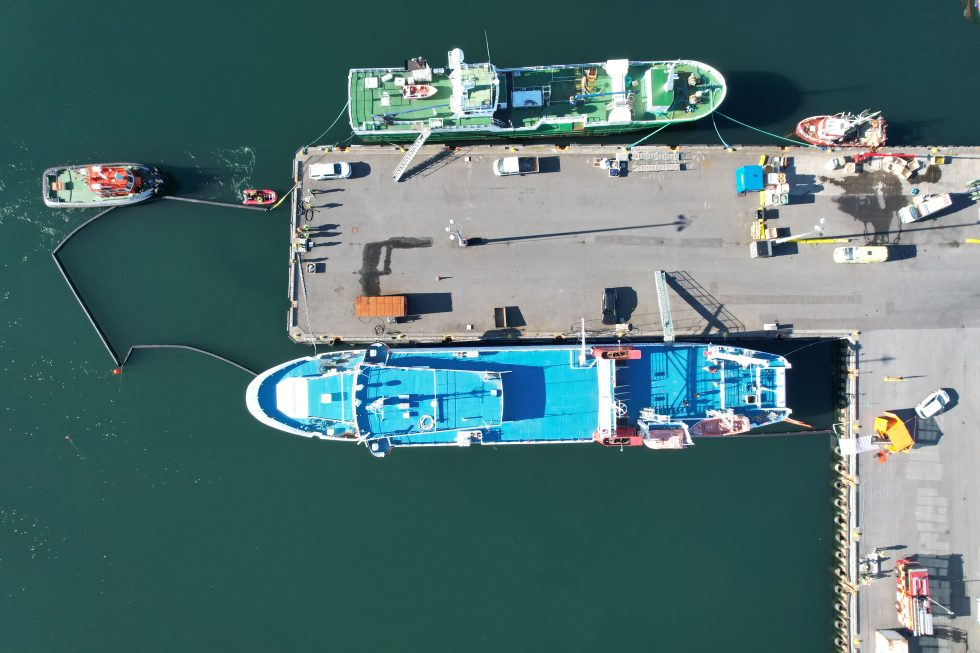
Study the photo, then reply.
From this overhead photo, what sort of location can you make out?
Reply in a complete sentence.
It's a port.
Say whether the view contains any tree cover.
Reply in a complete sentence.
No, there's no tree cover in this view.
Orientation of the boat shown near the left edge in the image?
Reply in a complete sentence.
From this overhead view, the boat shown near the left edge appears to run from left to right.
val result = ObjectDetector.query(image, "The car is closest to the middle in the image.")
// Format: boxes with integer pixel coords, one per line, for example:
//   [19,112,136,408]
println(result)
[602,287,621,325]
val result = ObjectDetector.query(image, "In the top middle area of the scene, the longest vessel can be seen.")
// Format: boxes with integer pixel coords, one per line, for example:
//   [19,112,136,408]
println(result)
[346,31,727,146]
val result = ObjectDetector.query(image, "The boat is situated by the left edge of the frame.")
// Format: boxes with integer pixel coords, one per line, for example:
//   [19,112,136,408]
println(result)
[42,161,171,210]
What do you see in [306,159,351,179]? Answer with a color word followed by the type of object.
white vehicle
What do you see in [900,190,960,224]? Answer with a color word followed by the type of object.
white truck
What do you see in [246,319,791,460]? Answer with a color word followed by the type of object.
blue ship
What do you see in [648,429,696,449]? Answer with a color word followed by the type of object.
white boat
